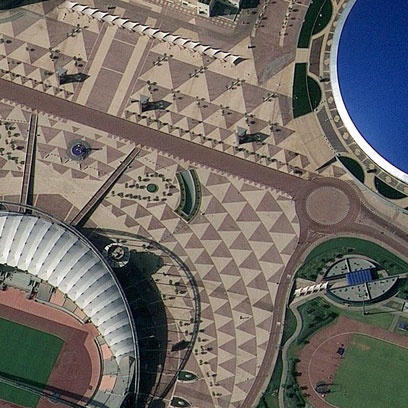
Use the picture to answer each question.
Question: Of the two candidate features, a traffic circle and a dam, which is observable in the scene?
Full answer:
The image shows a traffic circle.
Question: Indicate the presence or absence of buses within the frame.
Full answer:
No, I can't see a single bus in this photo.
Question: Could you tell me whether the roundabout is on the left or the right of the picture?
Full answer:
The roundabout sits on the right side.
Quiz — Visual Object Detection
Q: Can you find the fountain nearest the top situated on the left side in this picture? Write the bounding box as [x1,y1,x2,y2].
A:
[66,139,91,162]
